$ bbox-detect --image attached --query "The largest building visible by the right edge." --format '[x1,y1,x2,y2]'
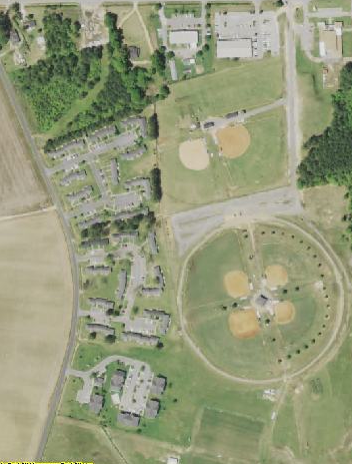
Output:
[319,23,342,53]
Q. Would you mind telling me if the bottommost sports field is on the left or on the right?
right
